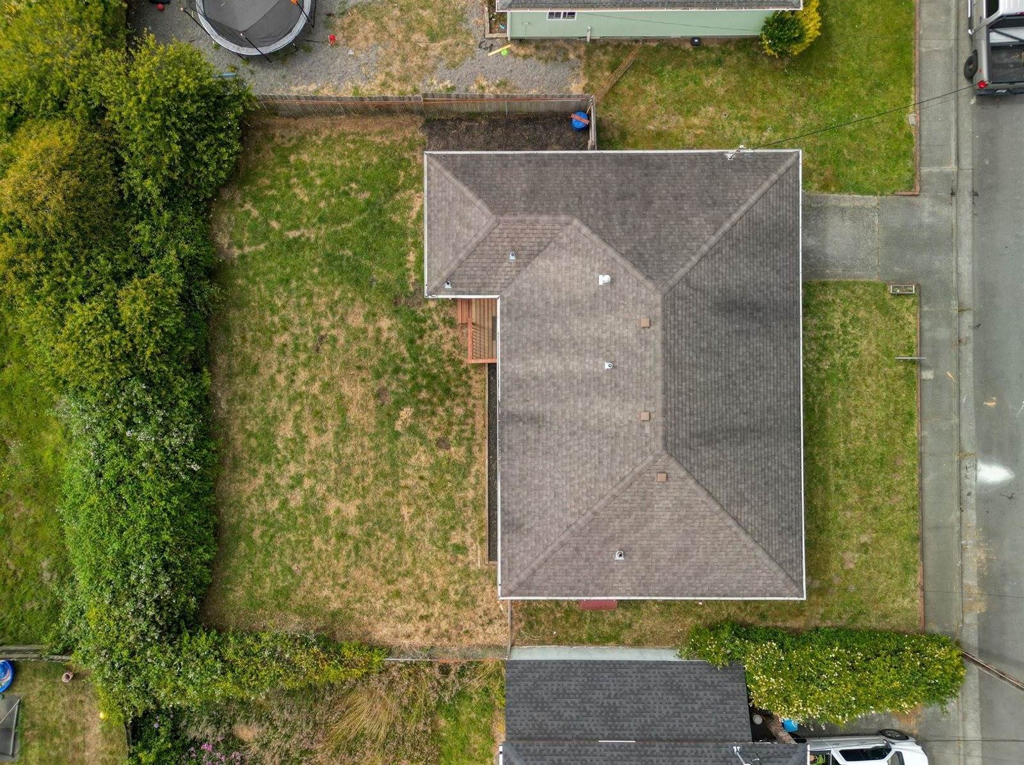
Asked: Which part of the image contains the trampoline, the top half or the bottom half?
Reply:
top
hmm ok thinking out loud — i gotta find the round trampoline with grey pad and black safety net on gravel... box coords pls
[179,0,319,66]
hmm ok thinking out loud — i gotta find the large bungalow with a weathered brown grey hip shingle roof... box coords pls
[423,137,806,600]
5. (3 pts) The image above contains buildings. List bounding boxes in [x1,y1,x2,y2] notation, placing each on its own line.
[494,0,804,40]
[497,649,810,765]
[423,137,806,600]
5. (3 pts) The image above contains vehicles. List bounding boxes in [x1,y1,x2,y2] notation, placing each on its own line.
[804,728,924,765]
[955,0,1024,100]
